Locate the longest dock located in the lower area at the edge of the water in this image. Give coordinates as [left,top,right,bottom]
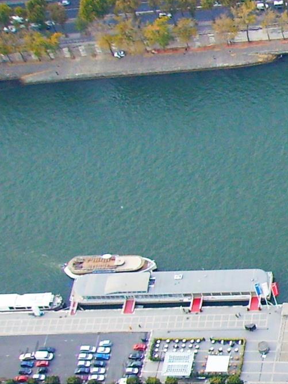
[72,271,274,309]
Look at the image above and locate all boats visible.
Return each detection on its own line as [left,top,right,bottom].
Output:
[0,292,69,313]
[68,253,154,277]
